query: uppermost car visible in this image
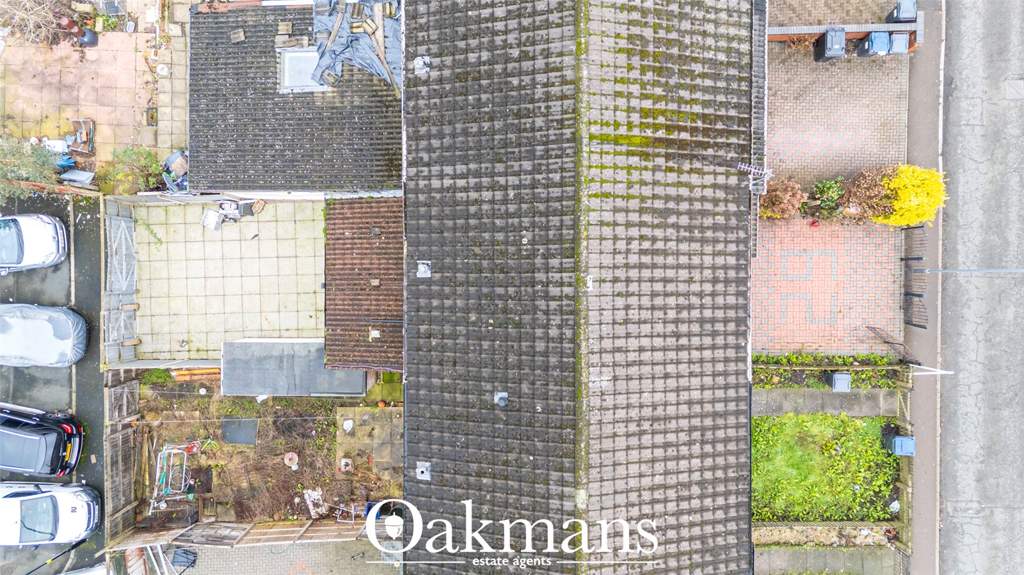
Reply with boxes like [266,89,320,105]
[0,210,68,274]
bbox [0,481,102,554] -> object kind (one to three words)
car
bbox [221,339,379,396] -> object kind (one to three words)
shed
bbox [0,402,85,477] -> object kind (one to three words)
car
